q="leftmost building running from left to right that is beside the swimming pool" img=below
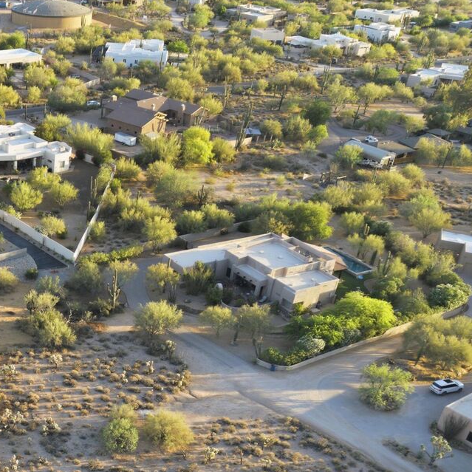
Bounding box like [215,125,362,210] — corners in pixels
[162,232,346,315]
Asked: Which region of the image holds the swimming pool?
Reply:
right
